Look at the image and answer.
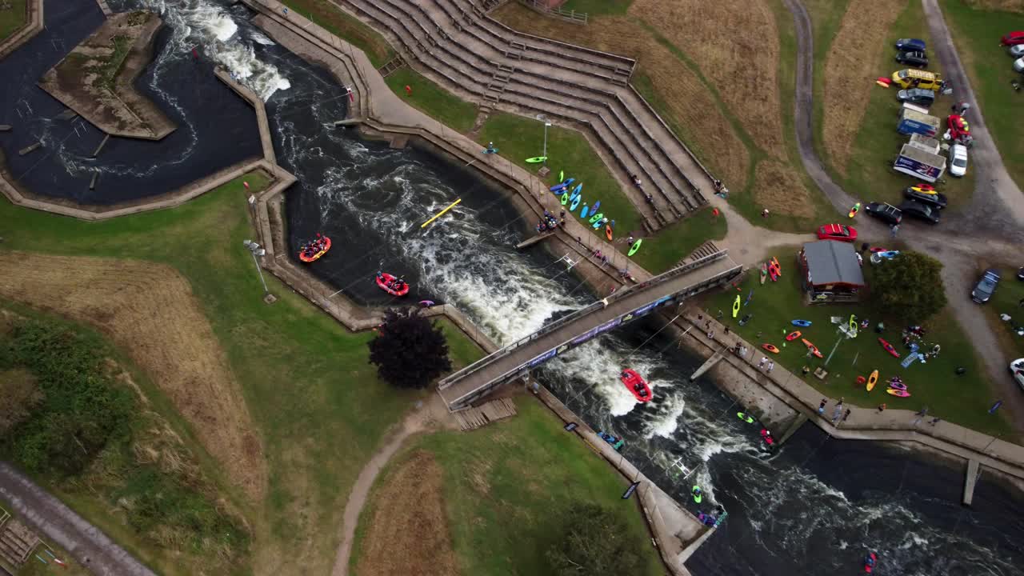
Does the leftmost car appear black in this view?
No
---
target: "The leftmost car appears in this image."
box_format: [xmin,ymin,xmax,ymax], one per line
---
[815,222,860,245]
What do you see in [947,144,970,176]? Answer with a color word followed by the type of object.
white car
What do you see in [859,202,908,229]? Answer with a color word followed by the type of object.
black car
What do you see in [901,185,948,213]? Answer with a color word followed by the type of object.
black car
